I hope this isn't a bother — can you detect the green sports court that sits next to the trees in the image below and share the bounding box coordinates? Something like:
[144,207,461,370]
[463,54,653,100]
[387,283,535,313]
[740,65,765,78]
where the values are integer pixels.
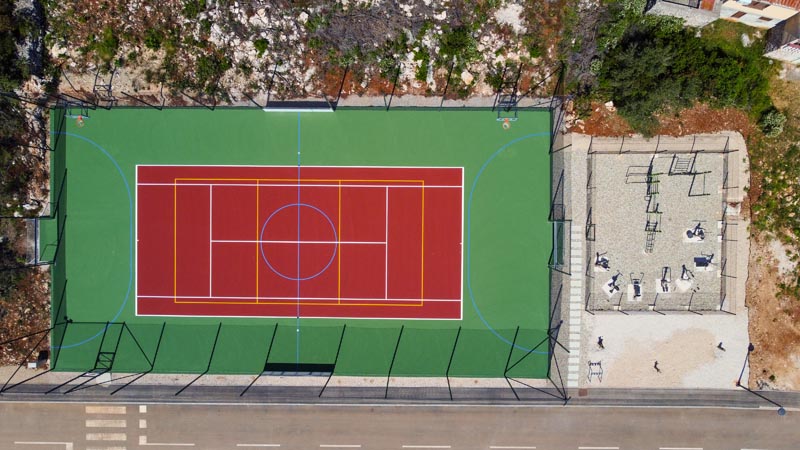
[39,107,564,379]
